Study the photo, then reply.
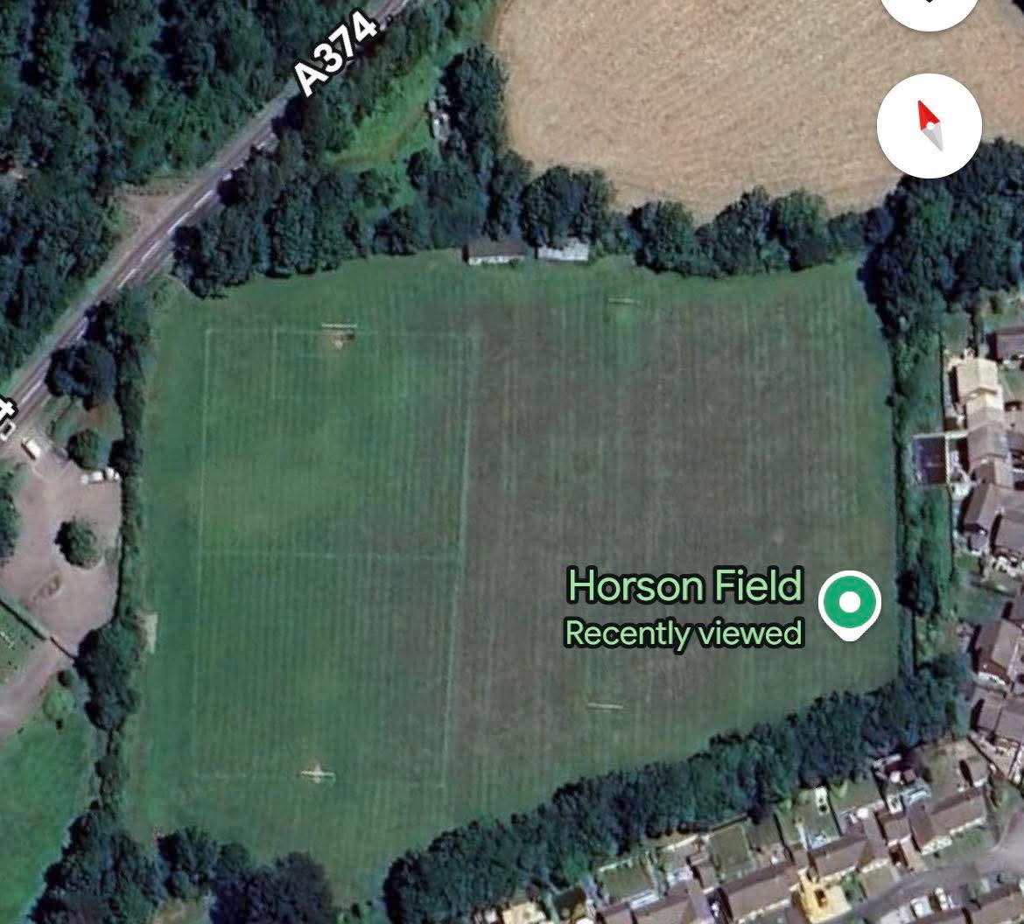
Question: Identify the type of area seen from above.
sports ground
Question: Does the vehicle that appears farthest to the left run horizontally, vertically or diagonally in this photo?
diagonally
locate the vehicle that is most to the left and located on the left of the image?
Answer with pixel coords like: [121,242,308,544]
[23,437,43,458]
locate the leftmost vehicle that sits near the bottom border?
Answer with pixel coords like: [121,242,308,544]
[709,901,723,920]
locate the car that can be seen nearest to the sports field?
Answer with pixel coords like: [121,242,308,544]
[103,469,121,481]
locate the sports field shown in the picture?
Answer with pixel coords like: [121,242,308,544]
[114,250,905,924]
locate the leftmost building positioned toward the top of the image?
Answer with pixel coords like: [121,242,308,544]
[469,242,524,261]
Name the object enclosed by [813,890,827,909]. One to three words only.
car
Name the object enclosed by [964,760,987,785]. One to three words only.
building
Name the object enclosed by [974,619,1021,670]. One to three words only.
house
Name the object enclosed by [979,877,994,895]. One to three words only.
car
